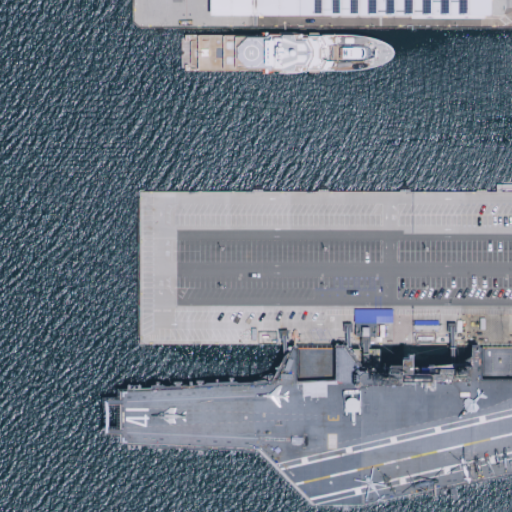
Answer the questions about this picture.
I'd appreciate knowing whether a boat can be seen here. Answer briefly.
Yes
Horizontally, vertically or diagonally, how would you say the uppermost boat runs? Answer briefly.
horizontally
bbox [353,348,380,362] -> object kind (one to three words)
ship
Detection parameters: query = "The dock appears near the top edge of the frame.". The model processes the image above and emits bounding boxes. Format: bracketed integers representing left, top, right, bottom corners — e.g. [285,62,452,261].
[134,0,512,28]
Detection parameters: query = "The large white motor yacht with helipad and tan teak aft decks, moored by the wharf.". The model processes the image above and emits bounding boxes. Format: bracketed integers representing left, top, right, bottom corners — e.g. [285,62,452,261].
[182,32,394,74]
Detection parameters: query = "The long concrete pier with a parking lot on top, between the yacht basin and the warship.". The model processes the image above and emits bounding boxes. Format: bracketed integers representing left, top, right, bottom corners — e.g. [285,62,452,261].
[140,190,512,346]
